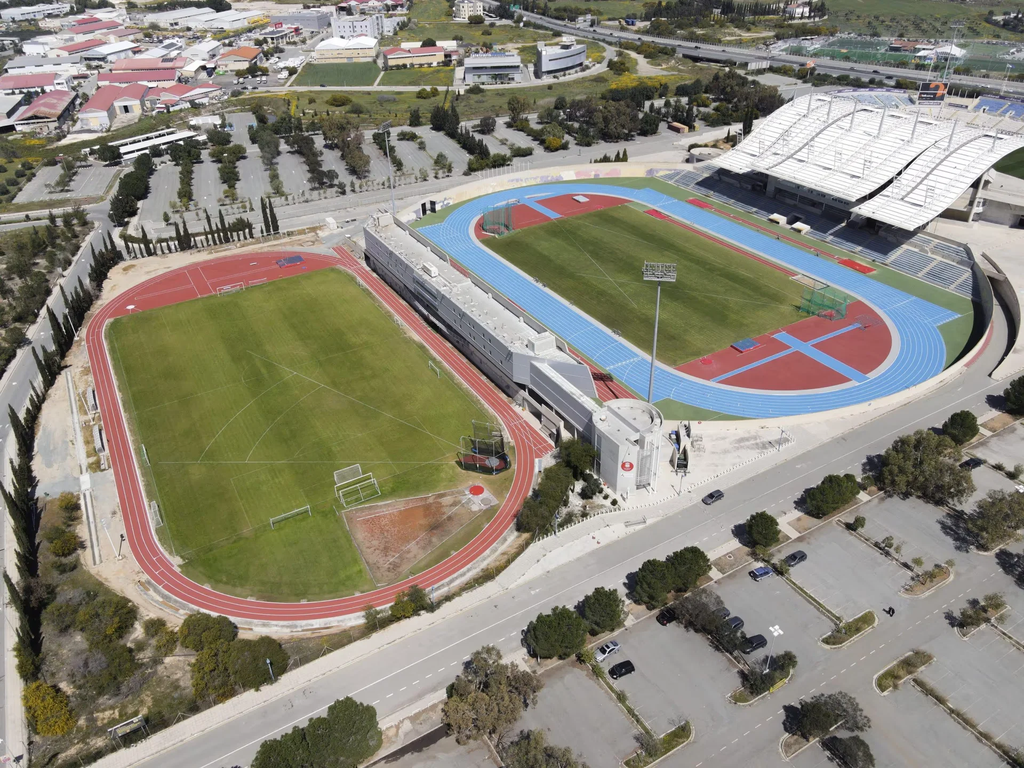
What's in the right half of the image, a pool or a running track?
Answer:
running track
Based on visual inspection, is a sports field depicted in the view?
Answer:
Yes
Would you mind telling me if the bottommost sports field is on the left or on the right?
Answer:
left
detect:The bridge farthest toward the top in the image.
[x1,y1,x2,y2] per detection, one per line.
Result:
[667,52,762,73]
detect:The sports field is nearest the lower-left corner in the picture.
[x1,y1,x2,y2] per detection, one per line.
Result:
[102,265,515,603]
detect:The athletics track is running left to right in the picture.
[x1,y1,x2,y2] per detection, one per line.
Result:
[420,184,959,418]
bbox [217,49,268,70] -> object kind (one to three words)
building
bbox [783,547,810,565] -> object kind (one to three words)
car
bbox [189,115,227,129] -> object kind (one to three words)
shed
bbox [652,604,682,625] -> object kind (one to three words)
car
